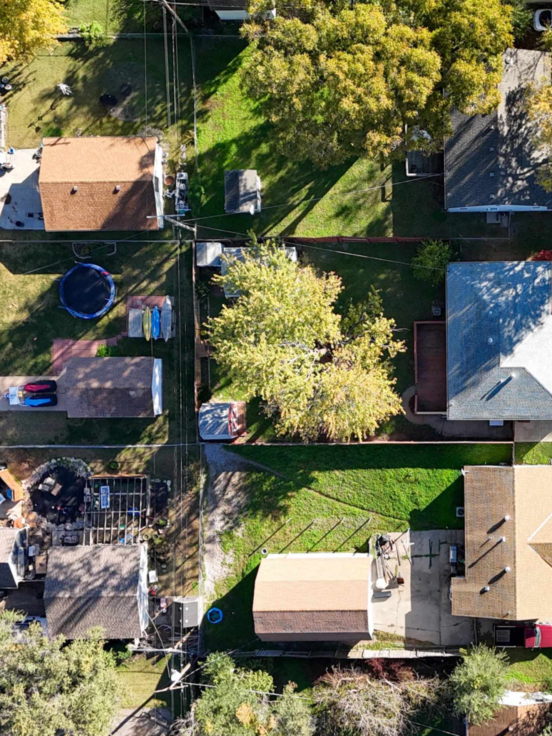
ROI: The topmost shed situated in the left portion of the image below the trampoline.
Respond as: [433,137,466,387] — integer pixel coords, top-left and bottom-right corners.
[60,357,163,417]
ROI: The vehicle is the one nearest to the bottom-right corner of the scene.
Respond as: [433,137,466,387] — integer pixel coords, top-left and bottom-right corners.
[491,620,552,649]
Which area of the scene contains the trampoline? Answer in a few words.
left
